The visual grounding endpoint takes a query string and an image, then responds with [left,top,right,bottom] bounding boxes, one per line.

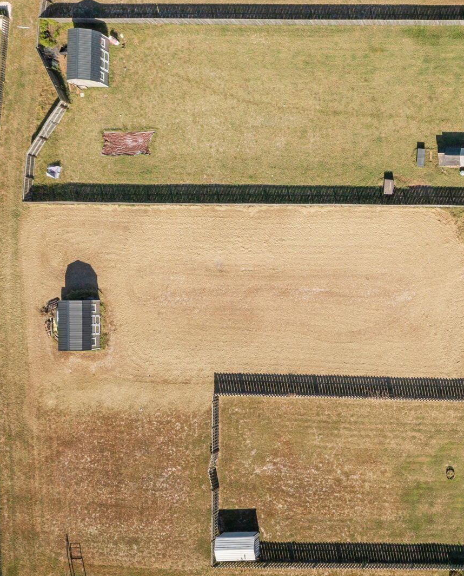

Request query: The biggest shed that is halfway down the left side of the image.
[57,300,100,352]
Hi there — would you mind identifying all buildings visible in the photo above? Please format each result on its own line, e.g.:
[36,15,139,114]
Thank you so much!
[57,300,100,352]
[213,533,261,567]
[438,146,464,167]
[66,31,109,92]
